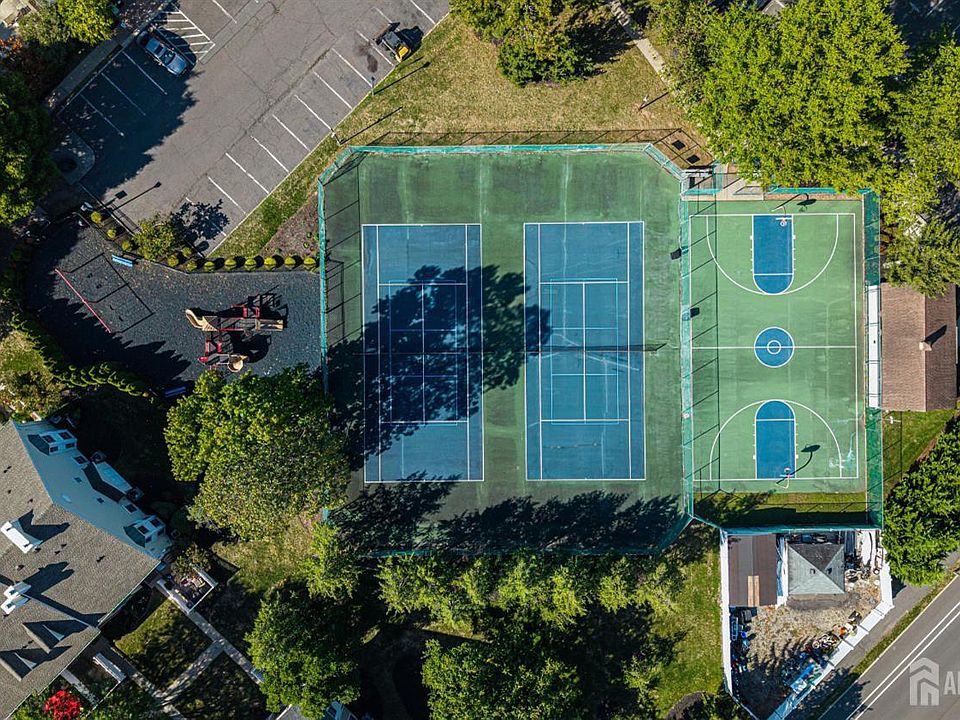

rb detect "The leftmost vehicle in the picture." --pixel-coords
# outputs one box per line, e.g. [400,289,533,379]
[133,24,186,71]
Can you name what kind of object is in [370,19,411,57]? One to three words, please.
work vehicle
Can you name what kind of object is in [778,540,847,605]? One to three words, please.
shed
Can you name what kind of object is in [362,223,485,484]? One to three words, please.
tennis court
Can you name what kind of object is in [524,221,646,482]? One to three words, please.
tennis court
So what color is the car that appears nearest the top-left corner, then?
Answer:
blue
